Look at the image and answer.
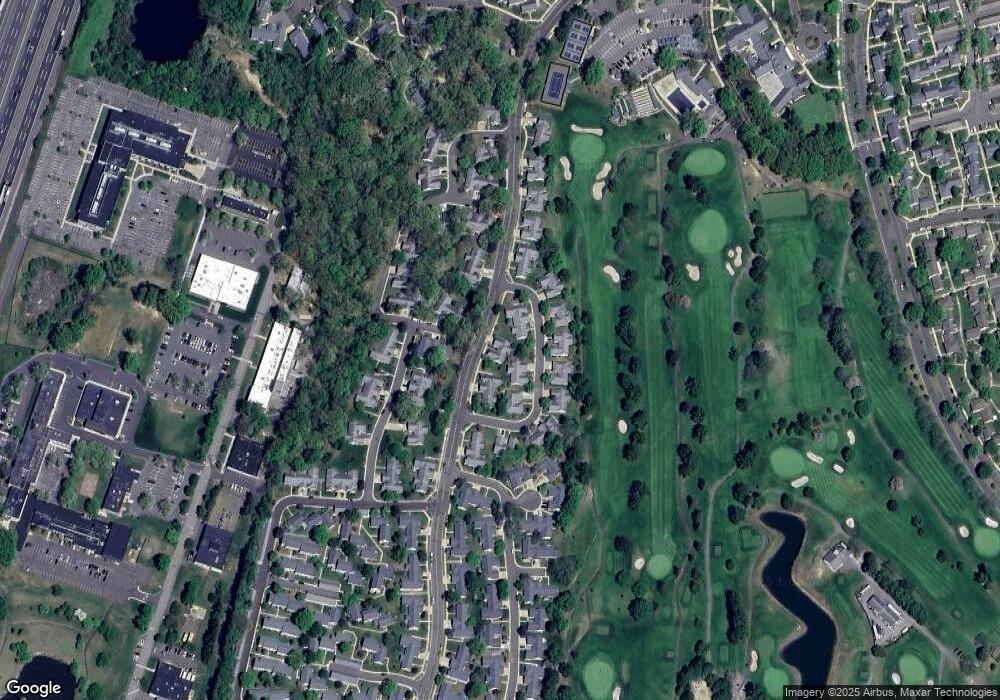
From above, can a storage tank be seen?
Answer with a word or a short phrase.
No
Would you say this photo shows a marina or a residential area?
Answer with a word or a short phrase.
residential area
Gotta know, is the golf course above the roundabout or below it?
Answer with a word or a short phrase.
below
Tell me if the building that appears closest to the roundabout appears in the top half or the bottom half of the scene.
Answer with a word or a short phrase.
top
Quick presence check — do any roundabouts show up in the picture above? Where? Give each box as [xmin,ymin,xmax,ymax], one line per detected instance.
[792,23,832,63]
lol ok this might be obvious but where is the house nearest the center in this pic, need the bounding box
[487,338,512,366]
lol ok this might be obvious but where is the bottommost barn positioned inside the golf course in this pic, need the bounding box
[866,592,899,626]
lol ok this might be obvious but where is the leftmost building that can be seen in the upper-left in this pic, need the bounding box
[79,109,190,231]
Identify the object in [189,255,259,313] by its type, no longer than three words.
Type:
building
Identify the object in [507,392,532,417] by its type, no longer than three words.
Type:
house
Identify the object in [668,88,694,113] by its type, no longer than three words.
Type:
swimming pool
